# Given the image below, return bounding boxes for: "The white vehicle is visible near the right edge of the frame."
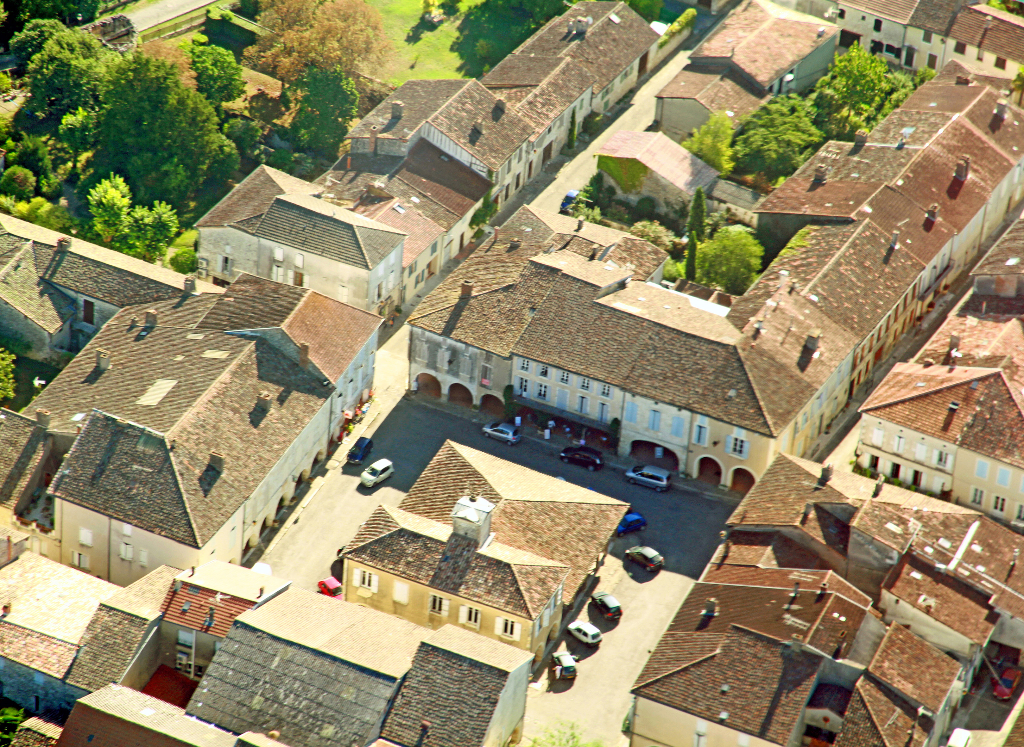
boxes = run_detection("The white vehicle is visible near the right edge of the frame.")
[946,722,974,747]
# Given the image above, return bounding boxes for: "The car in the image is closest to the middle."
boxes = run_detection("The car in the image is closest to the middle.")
[479,422,524,448]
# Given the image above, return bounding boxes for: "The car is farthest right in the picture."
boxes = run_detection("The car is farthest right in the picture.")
[992,663,1024,701]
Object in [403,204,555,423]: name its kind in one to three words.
house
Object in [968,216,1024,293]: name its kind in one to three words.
house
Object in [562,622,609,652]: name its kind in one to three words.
car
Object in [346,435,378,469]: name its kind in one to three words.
car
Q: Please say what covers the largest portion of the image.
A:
buildings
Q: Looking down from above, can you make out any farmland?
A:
No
